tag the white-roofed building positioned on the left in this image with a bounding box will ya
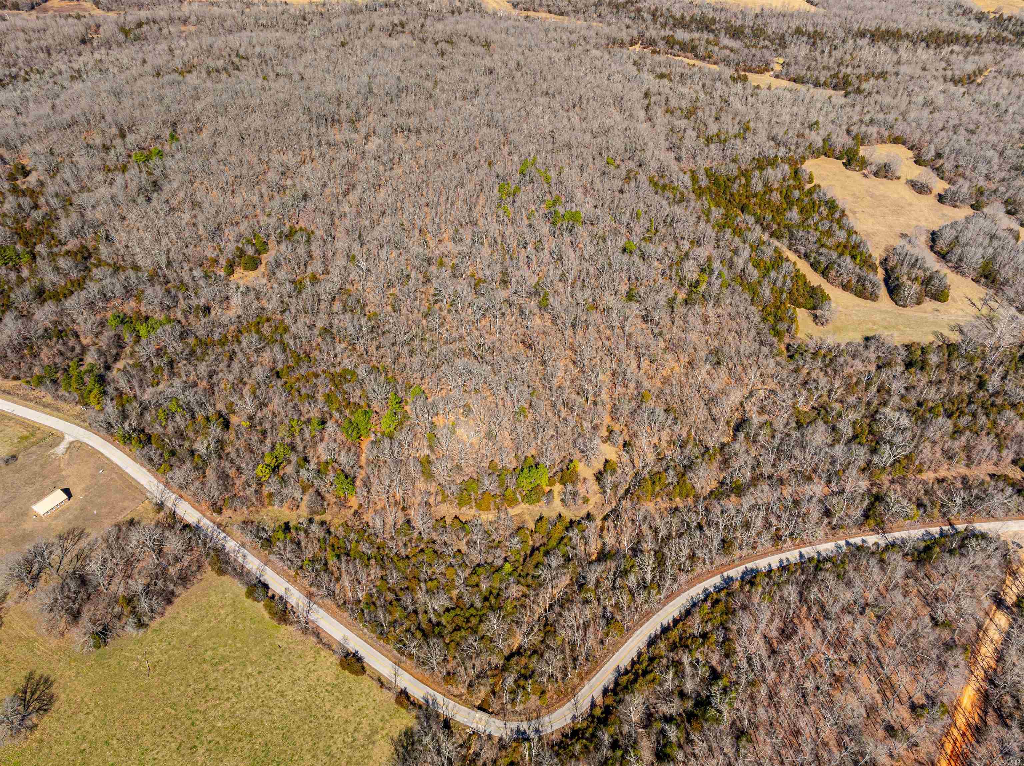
[34,489,71,519]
